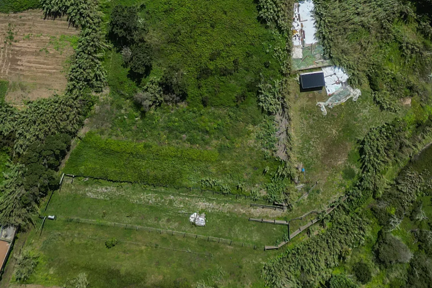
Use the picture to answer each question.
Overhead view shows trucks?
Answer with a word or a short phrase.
No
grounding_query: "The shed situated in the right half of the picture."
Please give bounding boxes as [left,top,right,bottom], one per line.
[301,69,325,89]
